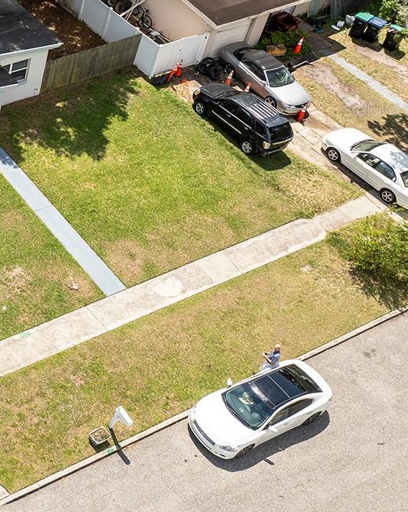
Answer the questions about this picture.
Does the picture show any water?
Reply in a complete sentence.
No, there's no water in this view.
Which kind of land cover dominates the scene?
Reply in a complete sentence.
For the most part, this view shows grass.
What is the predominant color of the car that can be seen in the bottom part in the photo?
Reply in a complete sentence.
The color of the car that can be seen in the bottom part is white.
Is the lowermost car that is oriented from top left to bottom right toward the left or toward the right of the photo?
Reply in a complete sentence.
You can find the lowermost car that is oriented from top left to bottom right on the right side of the picture.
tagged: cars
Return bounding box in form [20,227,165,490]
[187,361,343,466]
[319,128,408,205]
[224,45,329,119]
[190,80,304,160]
